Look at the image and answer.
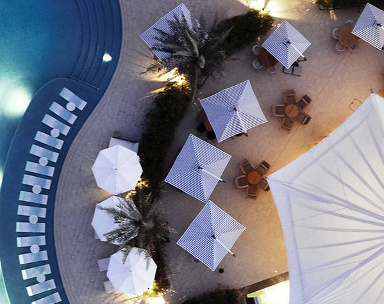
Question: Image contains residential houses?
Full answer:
No, I find no residential house anywhere in the image.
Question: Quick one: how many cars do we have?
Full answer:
I count no cars.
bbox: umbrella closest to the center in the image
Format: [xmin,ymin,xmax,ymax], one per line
[165,134,231,203]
